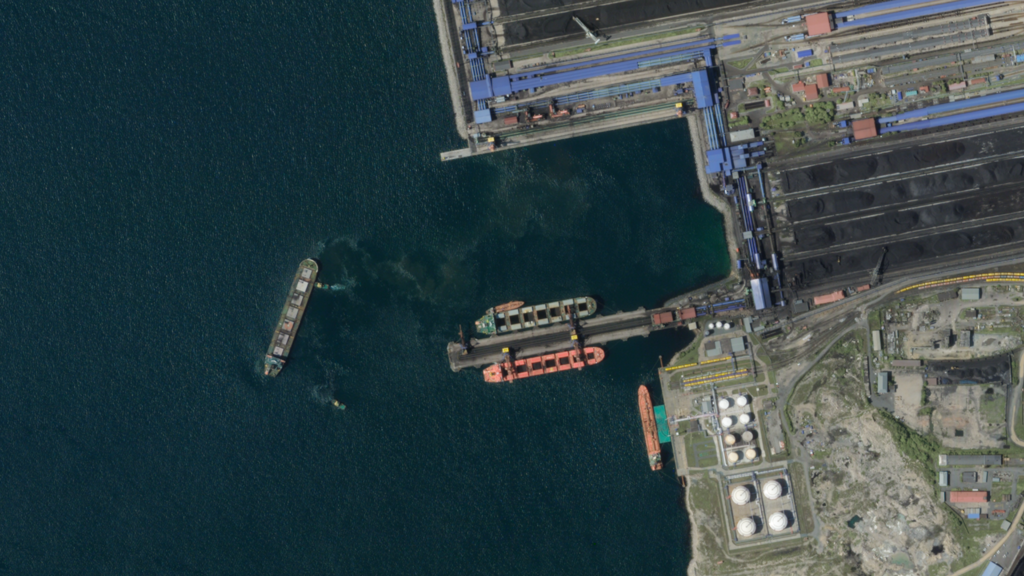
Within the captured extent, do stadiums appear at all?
No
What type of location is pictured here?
port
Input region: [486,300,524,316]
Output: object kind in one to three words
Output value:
ship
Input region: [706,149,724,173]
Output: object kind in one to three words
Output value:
house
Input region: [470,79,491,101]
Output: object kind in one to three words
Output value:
shed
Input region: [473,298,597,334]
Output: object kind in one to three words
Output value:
ship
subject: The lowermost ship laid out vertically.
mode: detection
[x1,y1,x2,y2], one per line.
[638,385,662,473]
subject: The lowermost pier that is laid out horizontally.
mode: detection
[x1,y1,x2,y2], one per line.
[447,302,697,371]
